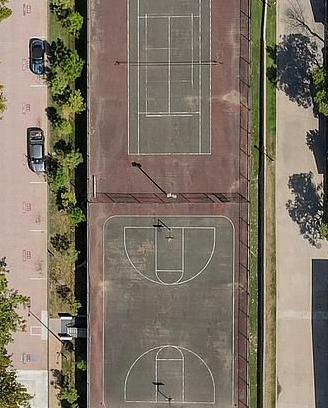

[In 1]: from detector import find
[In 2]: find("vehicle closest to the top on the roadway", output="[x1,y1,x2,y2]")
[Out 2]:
[30,38,46,74]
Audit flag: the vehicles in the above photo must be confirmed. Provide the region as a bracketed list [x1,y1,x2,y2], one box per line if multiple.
[30,38,46,74]
[28,130,45,172]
